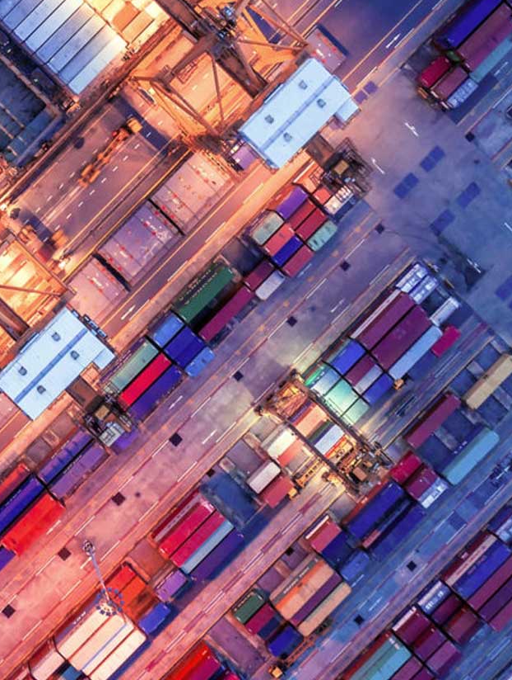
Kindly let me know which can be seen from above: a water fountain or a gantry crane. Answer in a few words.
gantry crane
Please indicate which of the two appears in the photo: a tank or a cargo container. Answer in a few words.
cargo container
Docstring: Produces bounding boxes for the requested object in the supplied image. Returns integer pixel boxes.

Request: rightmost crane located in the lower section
[254,370,397,507]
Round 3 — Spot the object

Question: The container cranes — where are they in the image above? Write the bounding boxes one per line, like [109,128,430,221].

[107,0,379,204]
[254,370,397,507]
[0,194,139,450]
